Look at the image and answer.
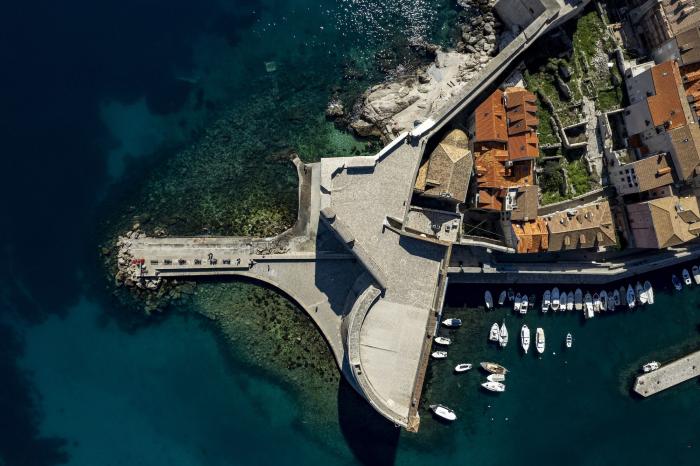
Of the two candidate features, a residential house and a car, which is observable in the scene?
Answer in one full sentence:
The image shows a residential house.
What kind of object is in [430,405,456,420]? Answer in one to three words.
boat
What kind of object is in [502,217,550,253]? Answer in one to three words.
house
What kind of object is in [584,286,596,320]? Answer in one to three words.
boat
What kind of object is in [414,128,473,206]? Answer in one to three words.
building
